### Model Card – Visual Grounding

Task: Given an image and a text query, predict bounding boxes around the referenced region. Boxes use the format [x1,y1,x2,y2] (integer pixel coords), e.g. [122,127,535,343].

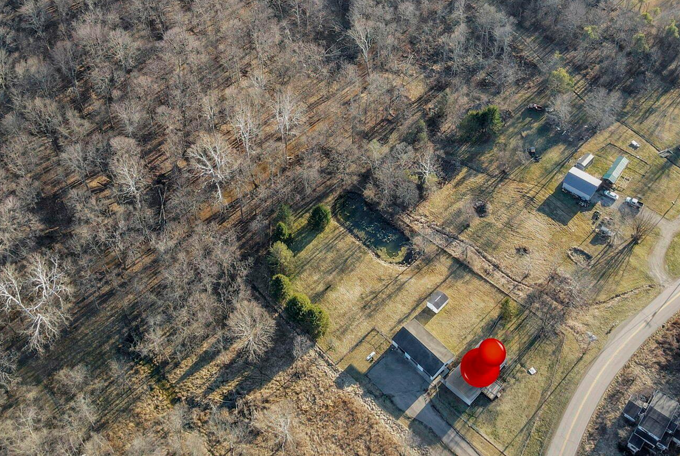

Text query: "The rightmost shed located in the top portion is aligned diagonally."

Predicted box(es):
[603,156,629,186]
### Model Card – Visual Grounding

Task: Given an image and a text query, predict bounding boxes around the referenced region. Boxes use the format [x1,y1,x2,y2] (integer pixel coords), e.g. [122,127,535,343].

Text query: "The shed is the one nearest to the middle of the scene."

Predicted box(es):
[426,291,449,315]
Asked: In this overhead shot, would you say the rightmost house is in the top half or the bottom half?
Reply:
bottom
